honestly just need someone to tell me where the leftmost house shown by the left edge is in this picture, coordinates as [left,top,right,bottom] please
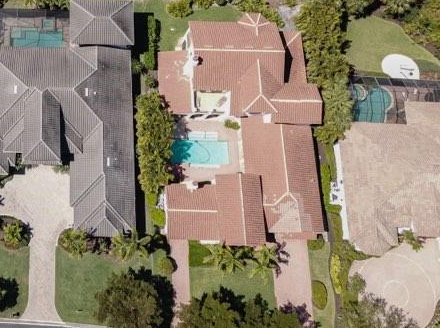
[0,0,135,237]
